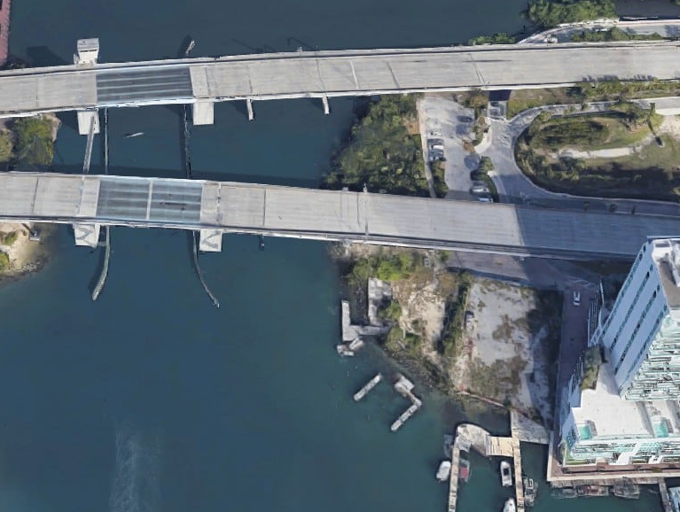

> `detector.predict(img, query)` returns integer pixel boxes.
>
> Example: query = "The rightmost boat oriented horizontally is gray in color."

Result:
[612,485,643,499]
